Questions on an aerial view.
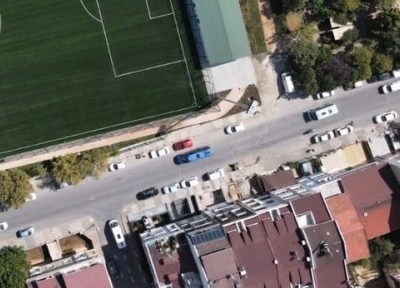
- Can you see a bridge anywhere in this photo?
No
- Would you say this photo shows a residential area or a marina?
residential area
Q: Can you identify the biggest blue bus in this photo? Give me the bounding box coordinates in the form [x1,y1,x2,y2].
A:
[175,145,218,168]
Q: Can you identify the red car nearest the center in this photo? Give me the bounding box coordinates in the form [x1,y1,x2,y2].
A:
[173,139,193,151]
